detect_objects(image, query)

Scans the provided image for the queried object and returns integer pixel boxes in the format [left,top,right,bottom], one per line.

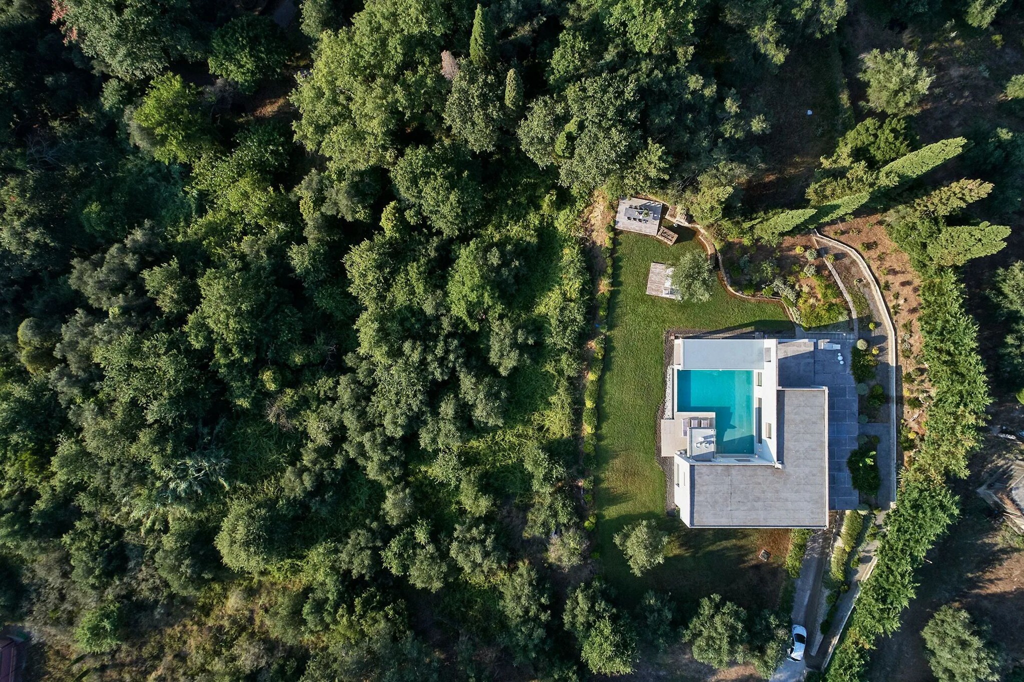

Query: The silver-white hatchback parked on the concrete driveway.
[788,627,811,665]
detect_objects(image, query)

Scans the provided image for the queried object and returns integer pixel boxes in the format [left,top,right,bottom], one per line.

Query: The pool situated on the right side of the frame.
[670,367,756,456]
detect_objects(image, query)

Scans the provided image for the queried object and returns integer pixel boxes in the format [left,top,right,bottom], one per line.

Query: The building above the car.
[675,340,829,528]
